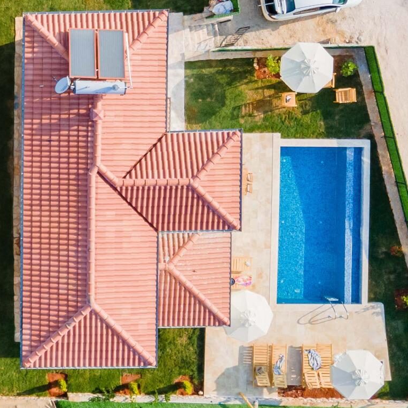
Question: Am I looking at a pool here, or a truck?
pool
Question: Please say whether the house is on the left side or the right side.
left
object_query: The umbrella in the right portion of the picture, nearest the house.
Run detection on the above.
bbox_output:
[231,292,273,340]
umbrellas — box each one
[329,350,383,399]
[282,42,332,92]
[231,292,273,340]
